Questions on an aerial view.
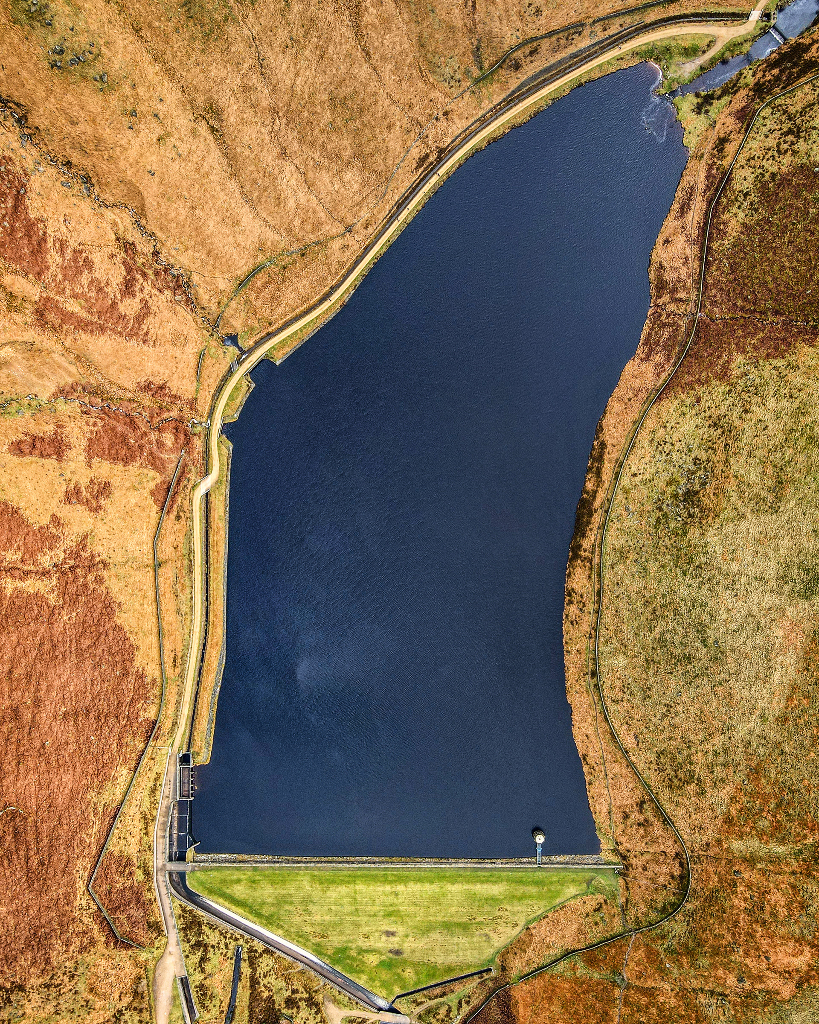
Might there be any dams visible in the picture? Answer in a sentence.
Yes, this view includes a dam.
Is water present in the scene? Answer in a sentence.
Yes, some water is visible.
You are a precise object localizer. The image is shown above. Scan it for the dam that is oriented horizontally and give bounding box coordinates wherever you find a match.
[190,853,624,1001]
